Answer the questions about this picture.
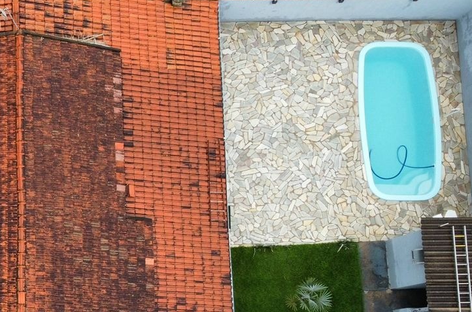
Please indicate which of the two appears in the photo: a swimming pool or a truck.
swimming pool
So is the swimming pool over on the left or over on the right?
right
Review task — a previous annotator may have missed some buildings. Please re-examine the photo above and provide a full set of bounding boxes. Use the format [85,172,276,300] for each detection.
[387,217,472,312]
[0,0,237,312]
